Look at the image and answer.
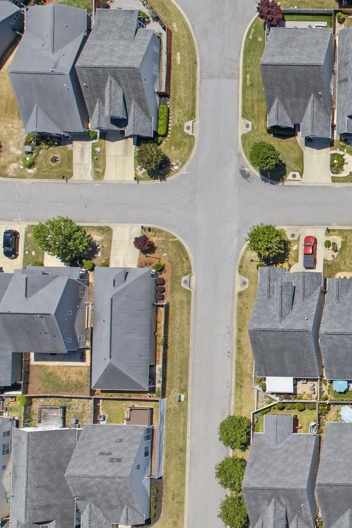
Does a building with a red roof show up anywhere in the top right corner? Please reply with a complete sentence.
No, no building with a red roof is visible in the top right corner.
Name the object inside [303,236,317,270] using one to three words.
vehicle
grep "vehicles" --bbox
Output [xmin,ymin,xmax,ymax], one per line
[4,233,20,257]
[303,236,317,270]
